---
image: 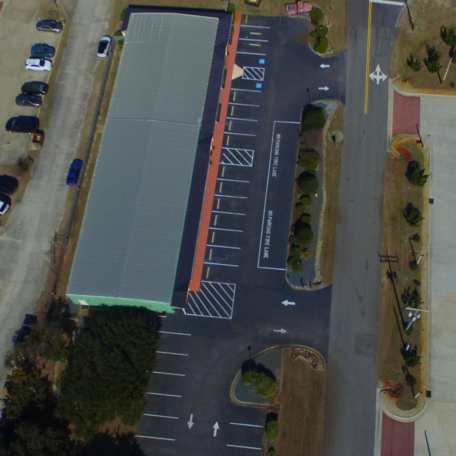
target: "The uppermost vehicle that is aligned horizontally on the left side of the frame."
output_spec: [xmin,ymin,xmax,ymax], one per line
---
[35,20,63,35]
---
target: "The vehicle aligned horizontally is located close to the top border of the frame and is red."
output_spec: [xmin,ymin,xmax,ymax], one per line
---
[284,0,313,15]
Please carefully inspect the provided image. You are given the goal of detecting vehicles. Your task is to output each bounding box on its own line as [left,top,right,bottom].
[19,80,50,95]
[0,177,23,193]
[35,20,63,35]
[7,115,40,132]
[12,94,43,109]
[24,55,53,72]
[28,42,58,59]
[66,157,86,186]
[0,200,10,215]
[96,36,113,59]
[284,0,313,15]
